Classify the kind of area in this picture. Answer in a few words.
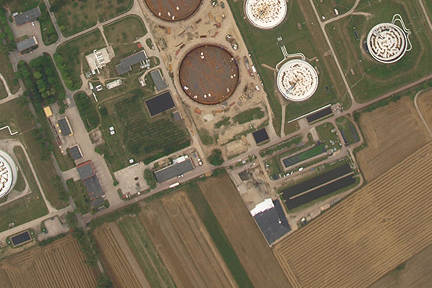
industrial area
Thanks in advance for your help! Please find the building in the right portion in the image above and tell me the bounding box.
[250,198,291,246]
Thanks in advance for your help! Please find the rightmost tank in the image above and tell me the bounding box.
[365,21,407,63]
